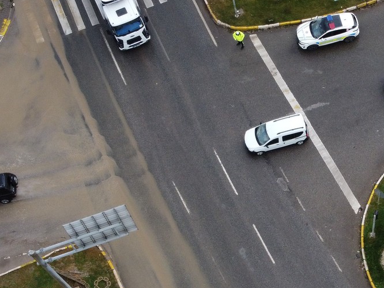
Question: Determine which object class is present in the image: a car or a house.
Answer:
car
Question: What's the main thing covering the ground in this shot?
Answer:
paved ground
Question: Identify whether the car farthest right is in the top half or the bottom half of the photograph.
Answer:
top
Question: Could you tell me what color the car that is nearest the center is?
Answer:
white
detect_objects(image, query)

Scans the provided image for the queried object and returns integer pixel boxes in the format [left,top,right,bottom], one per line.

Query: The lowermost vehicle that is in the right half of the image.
[244,116,310,158]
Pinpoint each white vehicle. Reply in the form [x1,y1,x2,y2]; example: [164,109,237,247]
[244,116,310,158]
[295,10,360,51]
[95,0,152,53]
